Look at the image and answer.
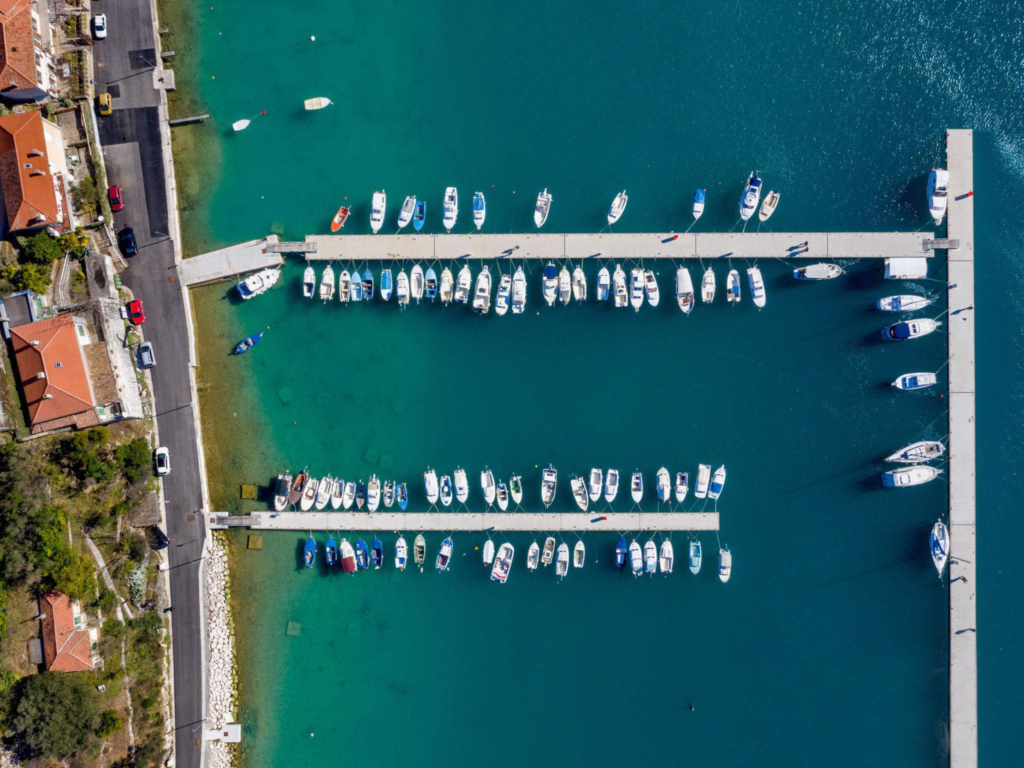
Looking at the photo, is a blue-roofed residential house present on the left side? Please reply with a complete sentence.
No, I see no blue-roofed residential house on the left side.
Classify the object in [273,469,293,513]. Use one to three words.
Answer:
boat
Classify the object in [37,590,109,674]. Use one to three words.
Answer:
house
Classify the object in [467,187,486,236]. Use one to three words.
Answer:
boat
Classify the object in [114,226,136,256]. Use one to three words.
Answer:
car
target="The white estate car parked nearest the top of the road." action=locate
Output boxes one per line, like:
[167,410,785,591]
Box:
[89,10,106,36]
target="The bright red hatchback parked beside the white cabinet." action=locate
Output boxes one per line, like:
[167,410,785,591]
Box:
[125,297,144,324]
